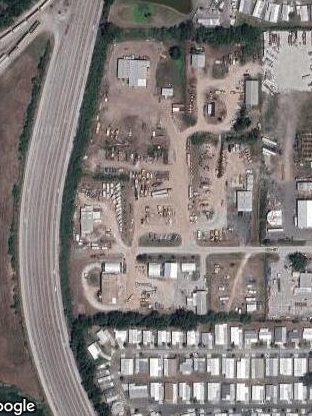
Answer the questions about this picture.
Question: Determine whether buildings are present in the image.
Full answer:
Yes, this view includes a building.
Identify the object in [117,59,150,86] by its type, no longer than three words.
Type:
building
